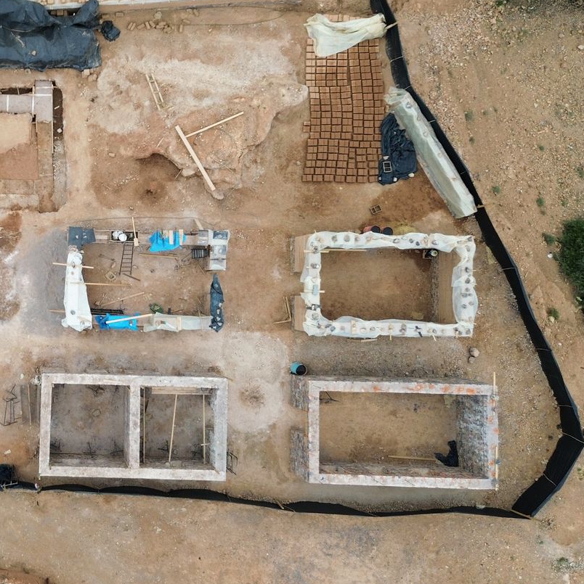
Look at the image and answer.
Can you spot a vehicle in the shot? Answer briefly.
No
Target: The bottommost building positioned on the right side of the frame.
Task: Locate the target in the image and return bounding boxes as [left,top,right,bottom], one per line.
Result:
[290,374,498,491]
